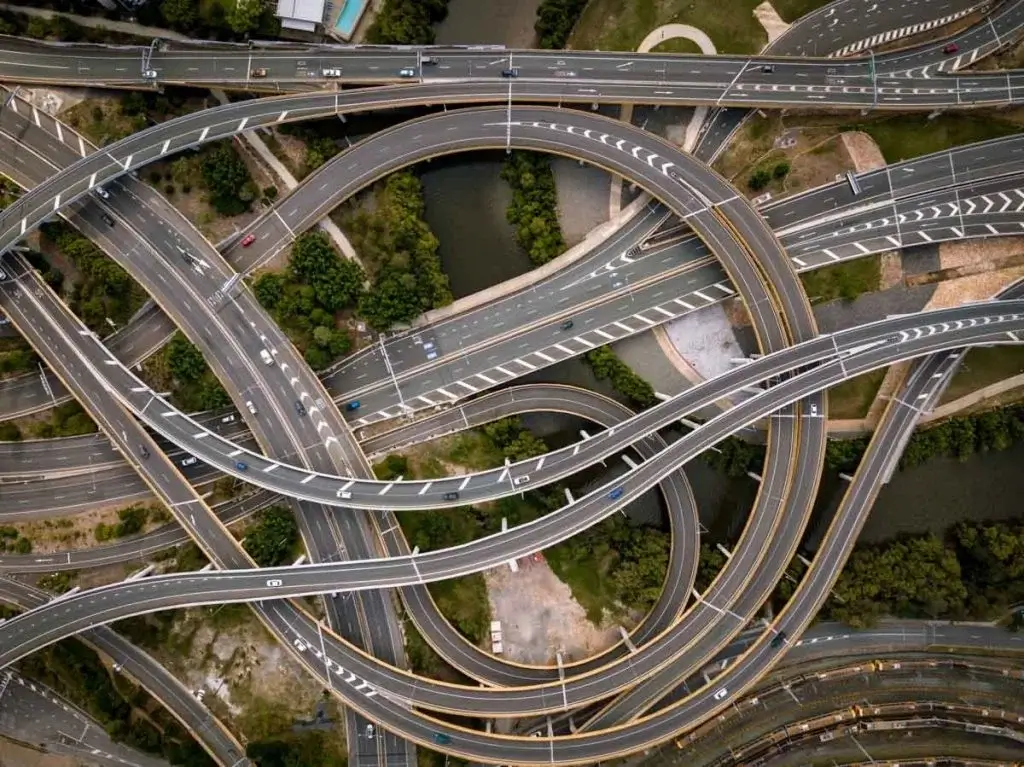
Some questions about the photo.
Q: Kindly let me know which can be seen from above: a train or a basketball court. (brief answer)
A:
train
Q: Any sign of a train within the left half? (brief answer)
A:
No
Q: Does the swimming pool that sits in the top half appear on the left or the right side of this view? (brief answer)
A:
left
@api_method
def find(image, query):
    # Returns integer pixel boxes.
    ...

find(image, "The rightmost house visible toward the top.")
[274,0,325,32]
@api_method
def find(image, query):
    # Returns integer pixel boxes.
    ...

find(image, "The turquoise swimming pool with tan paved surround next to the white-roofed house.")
[318,0,375,43]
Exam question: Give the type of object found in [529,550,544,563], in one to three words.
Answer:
vehicle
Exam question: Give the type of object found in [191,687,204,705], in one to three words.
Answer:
vehicle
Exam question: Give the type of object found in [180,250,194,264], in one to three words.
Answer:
car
